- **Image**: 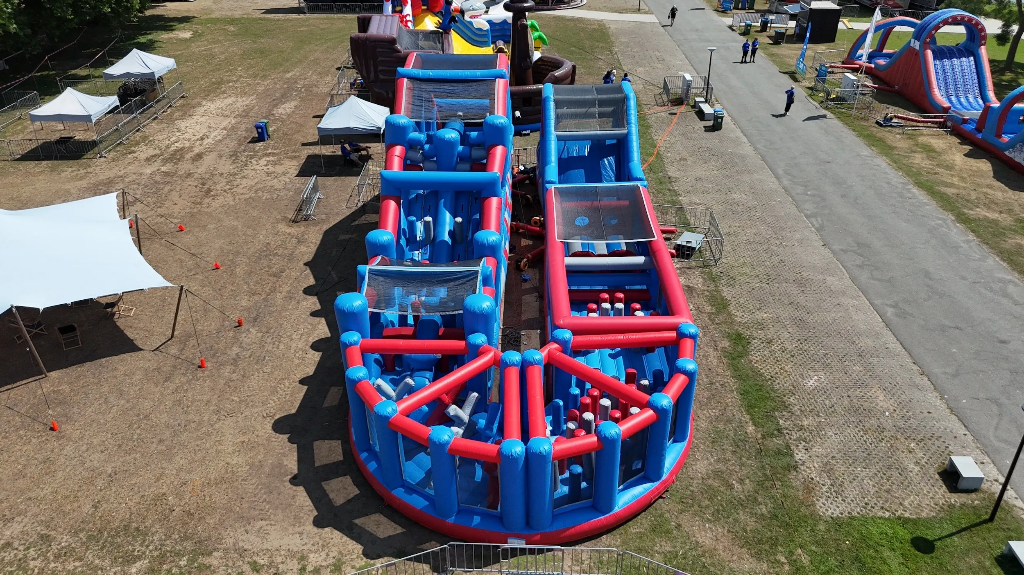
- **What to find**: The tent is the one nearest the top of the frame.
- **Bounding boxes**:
[99,38,172,96]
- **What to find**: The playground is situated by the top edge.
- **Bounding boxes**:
[416,14,495,60]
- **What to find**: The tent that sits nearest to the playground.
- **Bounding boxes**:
[315,96,391,172]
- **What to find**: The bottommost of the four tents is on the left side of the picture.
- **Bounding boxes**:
[0,187,235,420]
